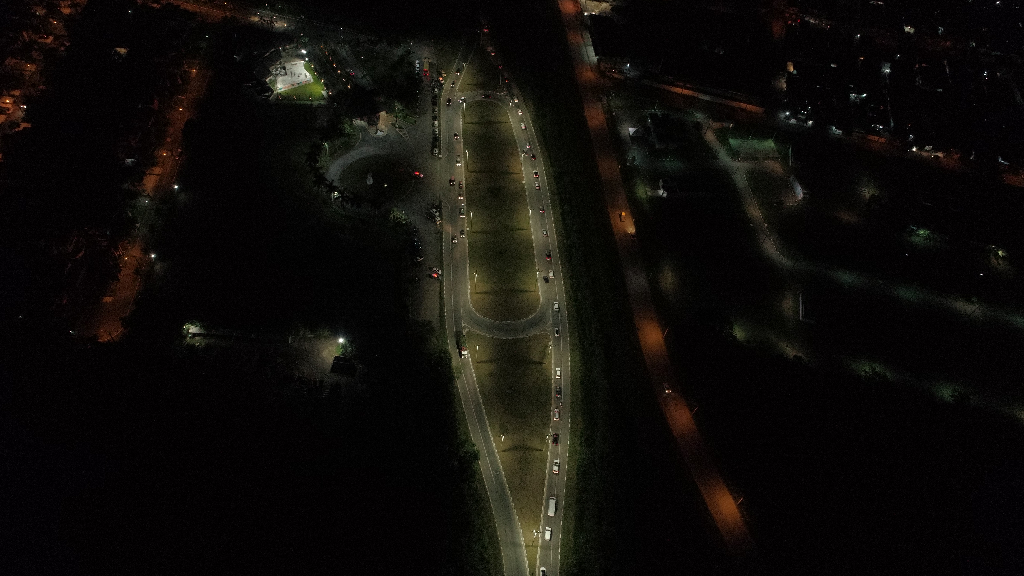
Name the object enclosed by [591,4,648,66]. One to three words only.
building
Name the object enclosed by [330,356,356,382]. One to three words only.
shed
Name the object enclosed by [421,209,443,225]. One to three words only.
vehicle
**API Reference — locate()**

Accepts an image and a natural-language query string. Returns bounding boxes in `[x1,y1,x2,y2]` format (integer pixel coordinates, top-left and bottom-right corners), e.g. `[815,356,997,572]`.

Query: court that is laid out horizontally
[729,138,779,160]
